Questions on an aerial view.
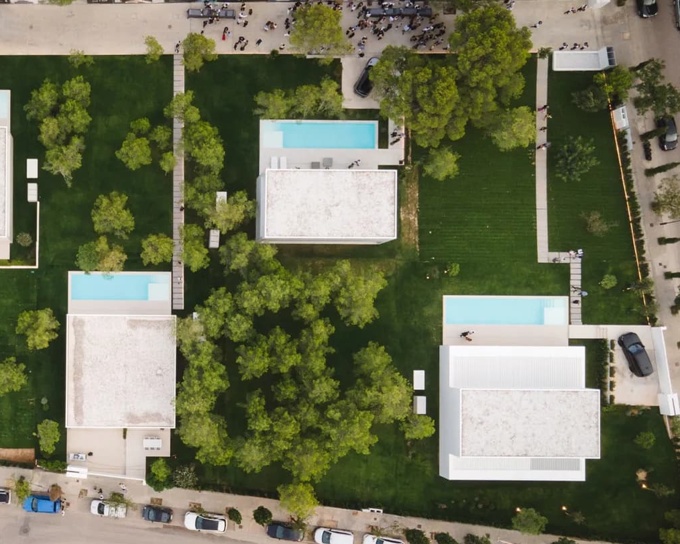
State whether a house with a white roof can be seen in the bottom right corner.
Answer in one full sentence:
Yes, the scene does show a house with a white roof in the bottom right corner.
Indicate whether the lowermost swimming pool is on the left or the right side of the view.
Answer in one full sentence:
The lowermost swimming pool sits on the right side.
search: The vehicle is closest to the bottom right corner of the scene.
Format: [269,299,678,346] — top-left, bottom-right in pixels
[618,331,652,378]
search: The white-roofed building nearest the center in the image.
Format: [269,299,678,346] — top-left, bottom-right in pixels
[255,170,397,244]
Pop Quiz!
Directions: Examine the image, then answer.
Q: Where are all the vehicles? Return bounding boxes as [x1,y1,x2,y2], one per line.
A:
[265,521,304,540]
[313,526,354,544]
[0,487,13,503]
[23,494,62,512]
[361,532,405,544]
[618,331,652,378]
[183,509,227,531]
[352,58,381,101]
[90,498,127,517]
[141,504,173,522]
[635,0,657,19]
